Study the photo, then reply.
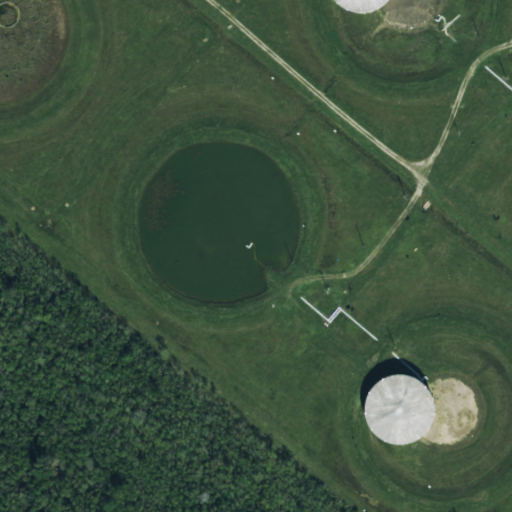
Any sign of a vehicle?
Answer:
No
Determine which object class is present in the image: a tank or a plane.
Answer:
tank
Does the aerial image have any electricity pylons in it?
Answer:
No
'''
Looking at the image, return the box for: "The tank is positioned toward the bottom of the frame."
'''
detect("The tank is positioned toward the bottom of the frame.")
[364,374,437,446]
